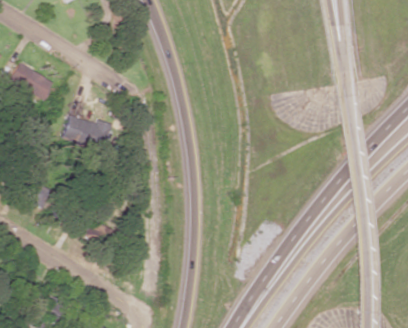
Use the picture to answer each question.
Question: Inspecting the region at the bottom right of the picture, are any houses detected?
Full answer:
No, no house can be made out at the bottom right of the picture.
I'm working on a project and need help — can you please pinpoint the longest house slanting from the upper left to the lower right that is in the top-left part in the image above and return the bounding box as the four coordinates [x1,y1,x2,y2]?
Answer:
[10,62,53,98]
